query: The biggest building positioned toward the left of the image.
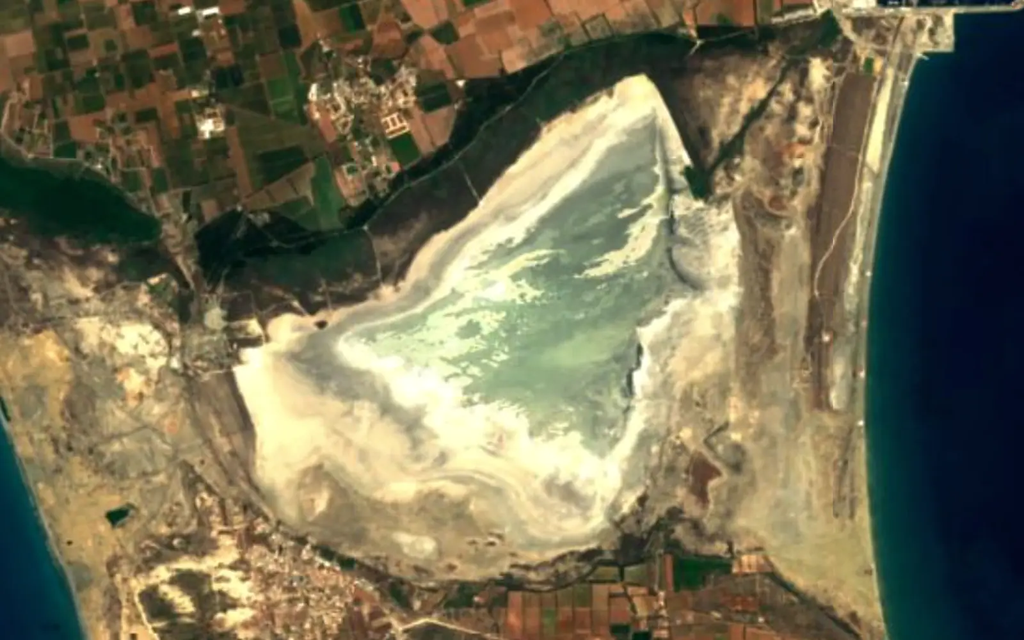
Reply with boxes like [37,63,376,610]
[382,113,409,139]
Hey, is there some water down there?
Yes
